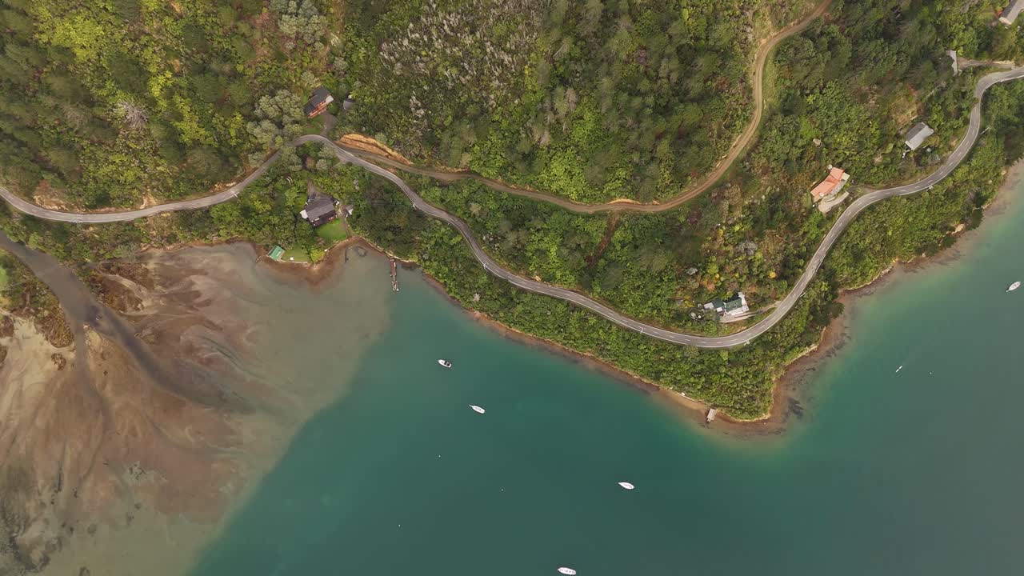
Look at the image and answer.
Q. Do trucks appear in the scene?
No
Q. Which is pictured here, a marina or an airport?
marina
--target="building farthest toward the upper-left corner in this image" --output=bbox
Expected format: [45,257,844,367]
[303,85,334,122]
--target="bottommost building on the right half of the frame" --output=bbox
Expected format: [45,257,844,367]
[703,292,751,322]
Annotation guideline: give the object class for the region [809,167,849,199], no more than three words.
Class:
house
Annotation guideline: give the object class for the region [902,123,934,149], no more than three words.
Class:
house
